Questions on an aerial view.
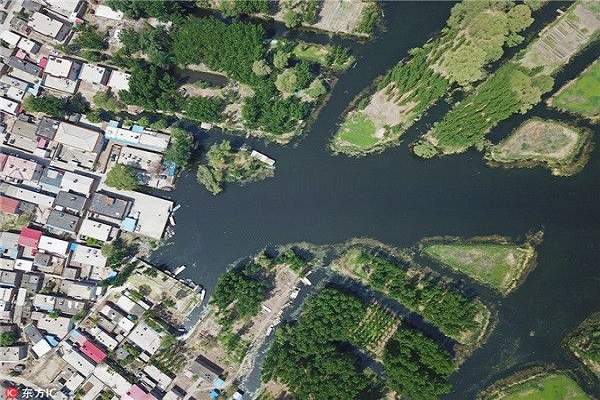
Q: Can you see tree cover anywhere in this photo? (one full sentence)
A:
Yes, tree cover can be seen from above here.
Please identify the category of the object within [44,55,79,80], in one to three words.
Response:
house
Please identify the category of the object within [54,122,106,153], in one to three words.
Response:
building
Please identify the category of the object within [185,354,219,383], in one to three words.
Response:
house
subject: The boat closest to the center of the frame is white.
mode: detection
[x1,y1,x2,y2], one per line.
[252,150,275,166]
